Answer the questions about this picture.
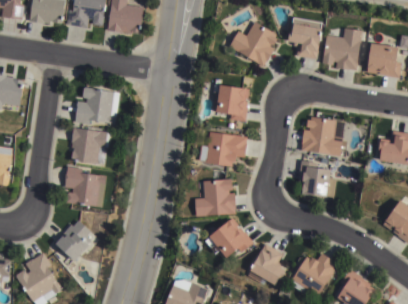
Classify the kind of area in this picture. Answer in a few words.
residential area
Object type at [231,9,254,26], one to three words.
swimming pool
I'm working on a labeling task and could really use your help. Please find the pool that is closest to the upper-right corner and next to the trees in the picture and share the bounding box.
[274,5,290,26]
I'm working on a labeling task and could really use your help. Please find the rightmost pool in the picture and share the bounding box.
[368,158,386,174]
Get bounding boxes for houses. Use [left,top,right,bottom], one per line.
[56,222,96,266]
[70,129,112,164]
[202,132,248,166]
[324,28,368,70]
[66,166,106,208]
[234,23,279,72]
[168,280,208,304]
[211,220,256,258]
[75,88,120,124]
[289,18,324,58]
[30,0,66,26]
[337,272,375,304]
[0,0,24,18]
[196,180,237,216]
[303,160,338,198]
[302,118,347,158]
[385,201,408,244]
[0,252,11,287]
[380,132,408,165]
[218,84,251,122]
[250,244,294,286]
[296,256,336,296]
[0,74,24,110]
[369,44,403,78]
[108,0,144,33]
[17,254,68,304]
[0,147,14,186]
[68,0,106,26]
